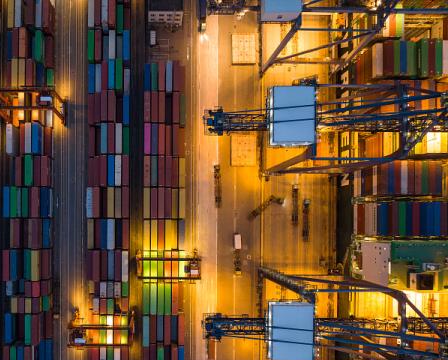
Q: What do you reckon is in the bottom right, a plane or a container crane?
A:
container crane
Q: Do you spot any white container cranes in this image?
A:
No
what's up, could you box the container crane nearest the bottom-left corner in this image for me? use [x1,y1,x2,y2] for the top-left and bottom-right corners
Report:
[68,310,137,348]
